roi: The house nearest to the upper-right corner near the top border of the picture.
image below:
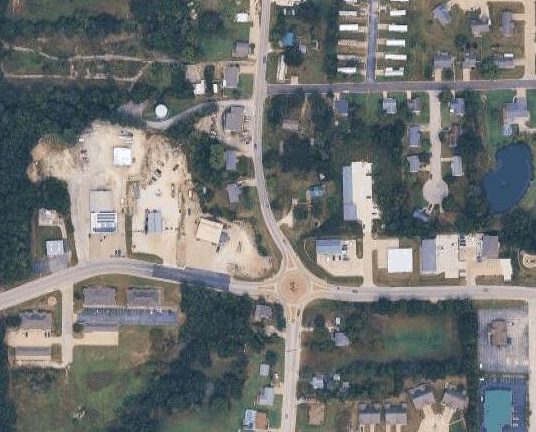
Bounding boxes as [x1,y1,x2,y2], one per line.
[500,11,515,35]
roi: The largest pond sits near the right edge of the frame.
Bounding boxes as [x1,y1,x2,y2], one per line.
[482,144,533,213]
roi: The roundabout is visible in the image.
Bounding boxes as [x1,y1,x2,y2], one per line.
[254,246,343,332]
